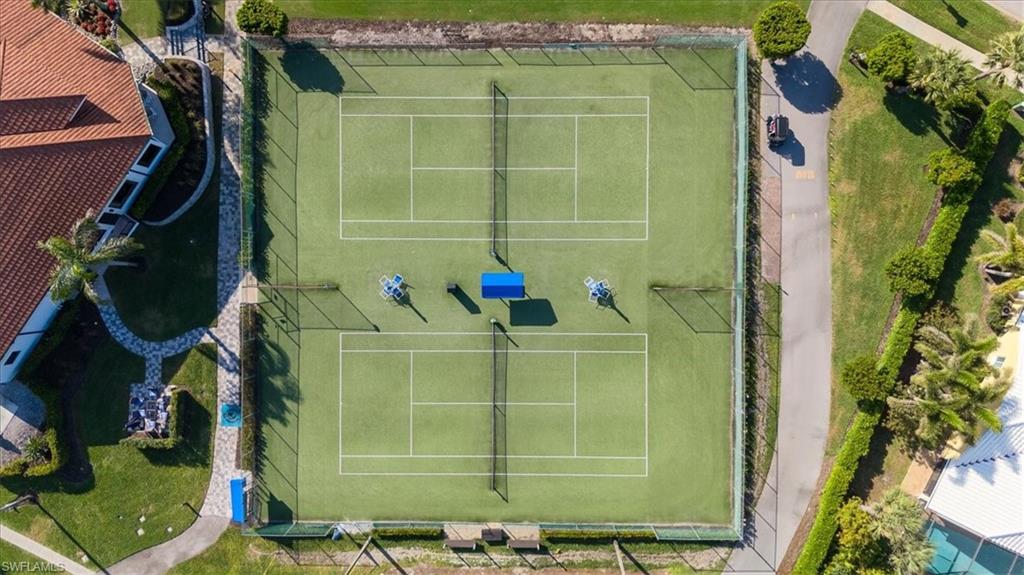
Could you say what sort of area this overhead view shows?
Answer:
sports ground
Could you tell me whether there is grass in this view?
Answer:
Yes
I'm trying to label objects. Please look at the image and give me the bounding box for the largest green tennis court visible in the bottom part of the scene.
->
[257,287,735,526]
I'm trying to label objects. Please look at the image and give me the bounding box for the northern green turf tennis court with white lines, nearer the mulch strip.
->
[257,48,735,287]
